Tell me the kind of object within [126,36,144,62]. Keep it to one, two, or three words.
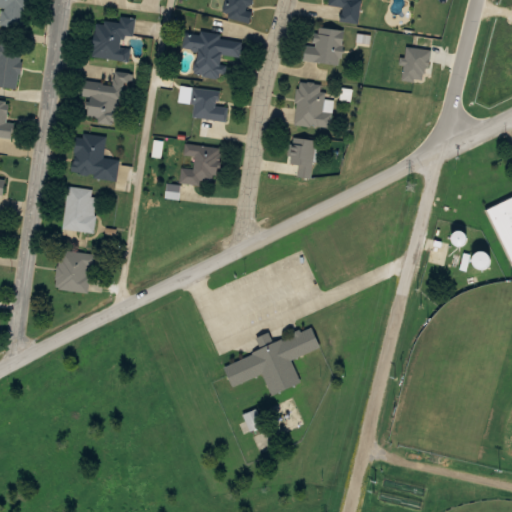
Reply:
swimming pool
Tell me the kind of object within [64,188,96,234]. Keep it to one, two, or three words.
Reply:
house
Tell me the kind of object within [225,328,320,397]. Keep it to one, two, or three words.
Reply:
building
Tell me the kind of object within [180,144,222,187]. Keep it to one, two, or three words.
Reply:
house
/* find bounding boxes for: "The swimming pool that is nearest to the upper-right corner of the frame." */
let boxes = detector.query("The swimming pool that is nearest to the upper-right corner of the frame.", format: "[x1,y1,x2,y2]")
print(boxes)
[385,0,411,27]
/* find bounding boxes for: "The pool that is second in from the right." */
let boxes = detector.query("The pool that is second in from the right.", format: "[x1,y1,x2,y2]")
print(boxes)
[180,52,197,75]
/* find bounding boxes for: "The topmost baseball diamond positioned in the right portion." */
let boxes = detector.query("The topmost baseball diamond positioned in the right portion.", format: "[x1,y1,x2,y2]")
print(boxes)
[390,281,512,474]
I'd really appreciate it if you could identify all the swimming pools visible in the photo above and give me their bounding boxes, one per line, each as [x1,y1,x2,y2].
[385,0,411,27]
[180,52,197,75]
[126,36,144,62]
